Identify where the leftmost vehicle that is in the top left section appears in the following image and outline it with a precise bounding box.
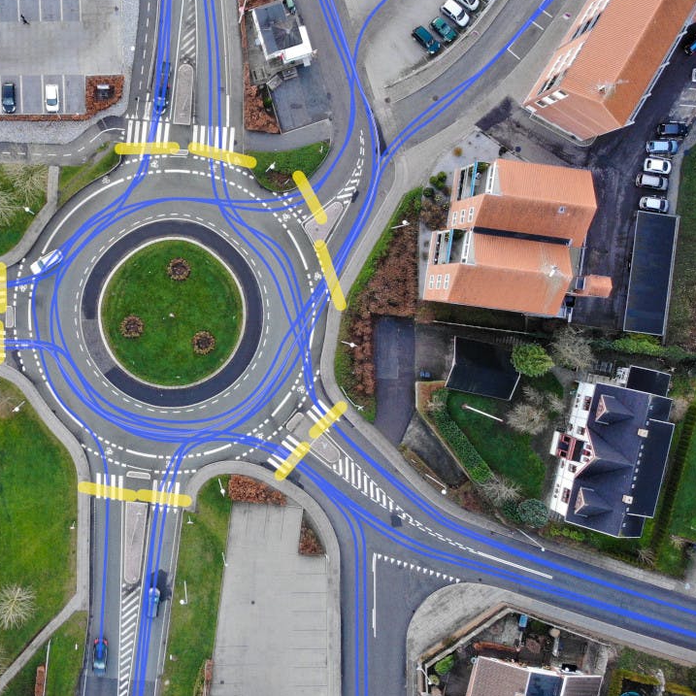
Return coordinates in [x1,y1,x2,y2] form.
[0,82,17,114]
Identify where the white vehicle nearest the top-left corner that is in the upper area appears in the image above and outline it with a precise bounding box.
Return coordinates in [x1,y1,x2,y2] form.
[43,84,59,113]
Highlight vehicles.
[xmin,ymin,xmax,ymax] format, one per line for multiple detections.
[656,121,688,138]
[635,173,669,190]
[0,82,17,114]
[152,86,168,116]
[641,157,672,173]
[690,68,696,84]
[411,24,441,56]
[31,249,63,274]
[43,84,59,113]
[681,32,696,56]
[439,0,470,28]
[429,15,458,44]
[638,196,669,212]
[645,139,678,155]
[457,0,480,13]
[147,587,161,619]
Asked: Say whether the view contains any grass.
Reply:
Yes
